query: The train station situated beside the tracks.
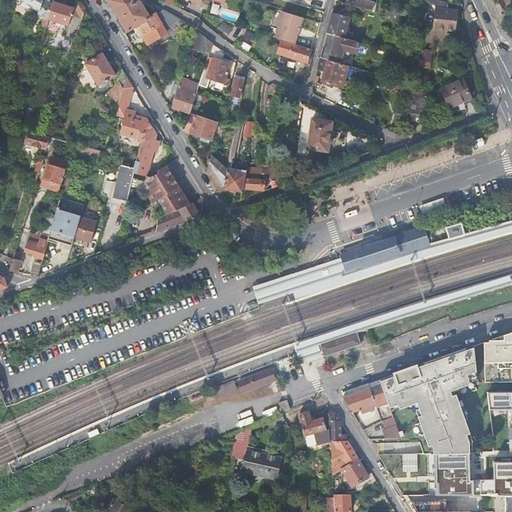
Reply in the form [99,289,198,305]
[9,221,512,475]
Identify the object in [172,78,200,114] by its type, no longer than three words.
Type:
house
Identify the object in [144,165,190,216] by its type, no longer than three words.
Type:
house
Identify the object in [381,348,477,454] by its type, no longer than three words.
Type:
building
